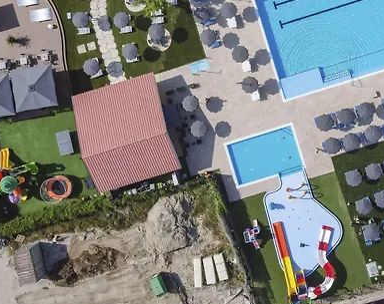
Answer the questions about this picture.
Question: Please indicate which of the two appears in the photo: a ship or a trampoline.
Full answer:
The image shows a trampoline.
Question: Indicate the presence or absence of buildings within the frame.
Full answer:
Yes, the photo shows a building.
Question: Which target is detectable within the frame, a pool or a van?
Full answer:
I can see a pool in this picture.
